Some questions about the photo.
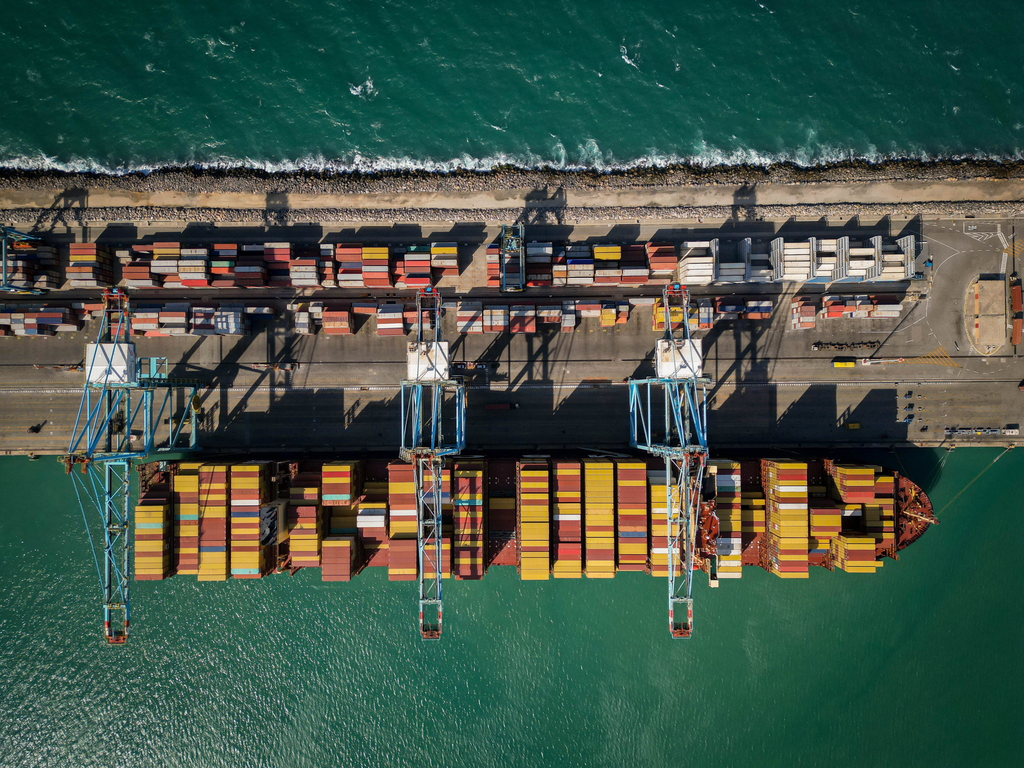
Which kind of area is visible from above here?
port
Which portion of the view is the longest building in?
right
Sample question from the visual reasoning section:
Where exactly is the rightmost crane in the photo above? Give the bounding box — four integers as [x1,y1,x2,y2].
[618,281,711,641]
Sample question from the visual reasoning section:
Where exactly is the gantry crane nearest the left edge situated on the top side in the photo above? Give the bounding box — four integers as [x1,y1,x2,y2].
[0,225,45,302]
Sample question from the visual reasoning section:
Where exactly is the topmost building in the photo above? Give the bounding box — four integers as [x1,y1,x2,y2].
[973,280,1008,345]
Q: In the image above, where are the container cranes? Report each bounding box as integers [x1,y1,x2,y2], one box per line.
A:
[497,221,526,298]
[62,285,210,645]
[397,283,477,643]
[618,281,711,641]
[0,225,45,302]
